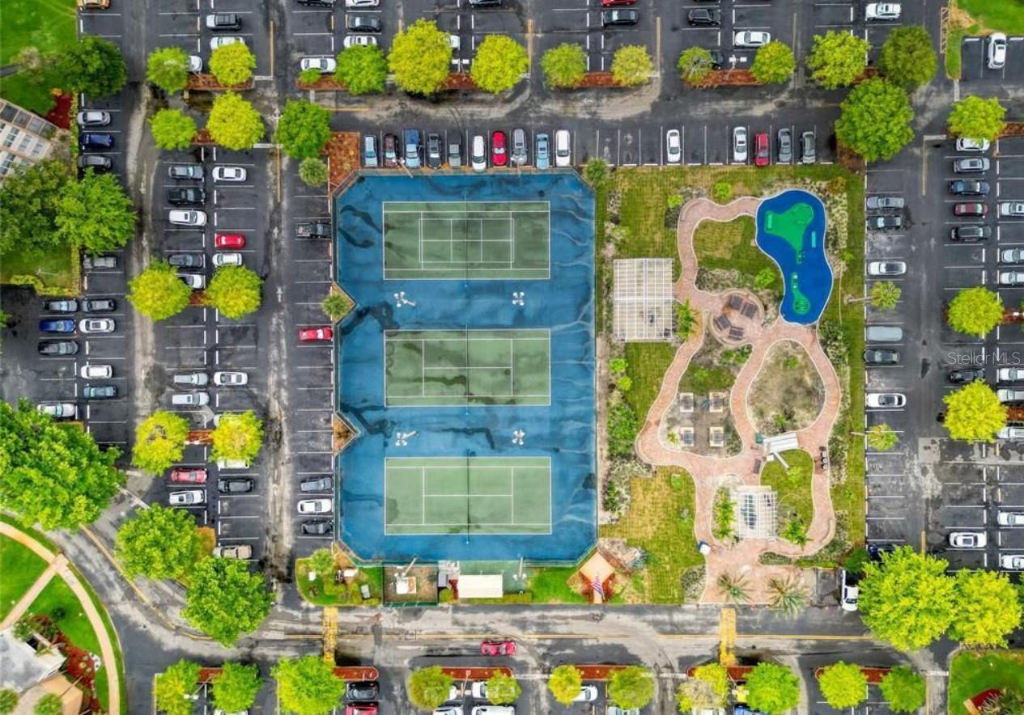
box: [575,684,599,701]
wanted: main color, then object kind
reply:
white car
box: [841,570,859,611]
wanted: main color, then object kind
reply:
white vehicle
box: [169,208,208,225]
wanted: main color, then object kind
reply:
white car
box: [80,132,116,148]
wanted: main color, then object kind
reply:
blue car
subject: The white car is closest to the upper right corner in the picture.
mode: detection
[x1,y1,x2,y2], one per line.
[987,34,1006,69]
